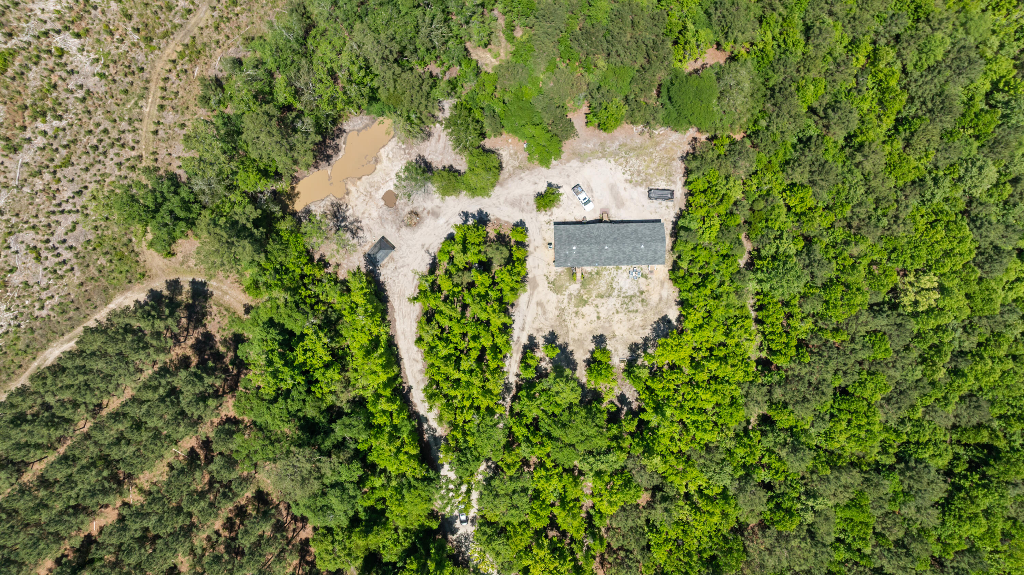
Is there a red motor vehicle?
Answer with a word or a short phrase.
No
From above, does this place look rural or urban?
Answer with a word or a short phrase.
rural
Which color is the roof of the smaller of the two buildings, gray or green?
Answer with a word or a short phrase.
gray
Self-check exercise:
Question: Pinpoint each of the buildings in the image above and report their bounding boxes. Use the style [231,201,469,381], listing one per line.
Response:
[554,222,666,267]
[366,238,395,267]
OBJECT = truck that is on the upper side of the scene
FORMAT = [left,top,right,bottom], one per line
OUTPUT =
[570,182,595,213]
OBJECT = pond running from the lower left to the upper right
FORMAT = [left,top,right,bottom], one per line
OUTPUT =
[292,117,395,211]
